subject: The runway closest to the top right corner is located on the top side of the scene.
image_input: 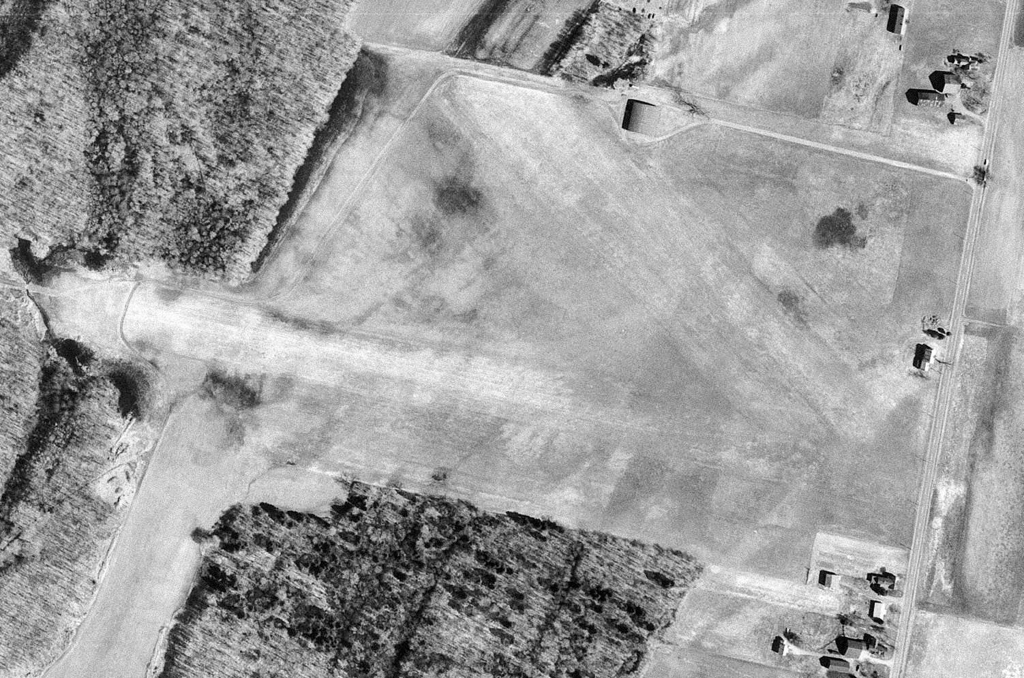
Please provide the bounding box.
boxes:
[461,73,868,435]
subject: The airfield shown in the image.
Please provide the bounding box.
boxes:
[136,73,868,435]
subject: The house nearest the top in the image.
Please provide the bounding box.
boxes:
[896,6,911,34]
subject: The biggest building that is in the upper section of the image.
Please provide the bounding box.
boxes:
[627,101,661,136]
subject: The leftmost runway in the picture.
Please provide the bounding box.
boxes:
[136,296,583,418]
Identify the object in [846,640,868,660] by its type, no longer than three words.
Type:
barn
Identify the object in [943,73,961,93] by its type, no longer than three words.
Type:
barn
